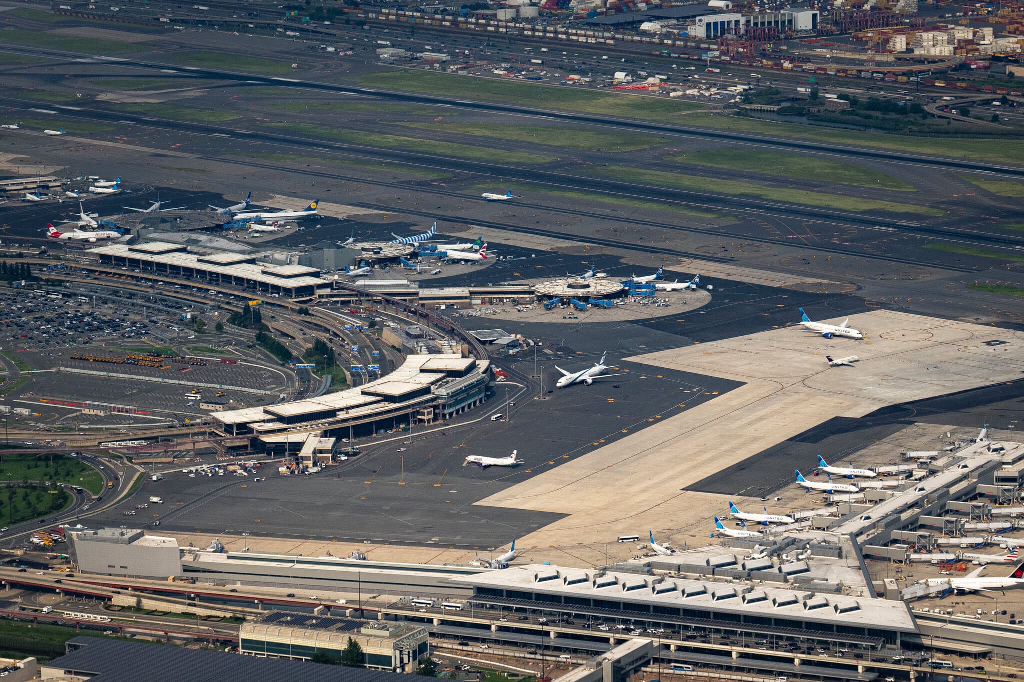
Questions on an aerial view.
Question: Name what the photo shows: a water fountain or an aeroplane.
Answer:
aeroplane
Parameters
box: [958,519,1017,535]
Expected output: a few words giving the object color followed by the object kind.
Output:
white jet bridge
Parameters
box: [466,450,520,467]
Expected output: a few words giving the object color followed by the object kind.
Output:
white airplane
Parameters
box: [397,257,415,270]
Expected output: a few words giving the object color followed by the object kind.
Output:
blue jet bridge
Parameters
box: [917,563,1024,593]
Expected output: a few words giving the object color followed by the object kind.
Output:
white airplane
